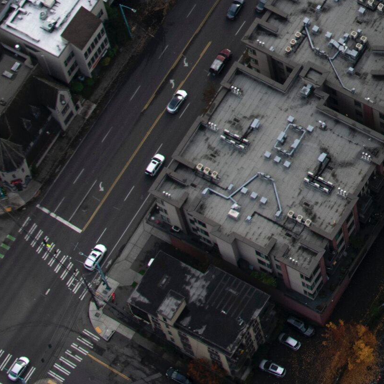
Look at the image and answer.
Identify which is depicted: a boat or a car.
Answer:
car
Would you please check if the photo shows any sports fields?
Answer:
No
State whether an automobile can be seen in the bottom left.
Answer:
Yes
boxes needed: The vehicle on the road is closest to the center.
[142,151,168,180]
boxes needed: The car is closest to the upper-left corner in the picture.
[167,89,188,115]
